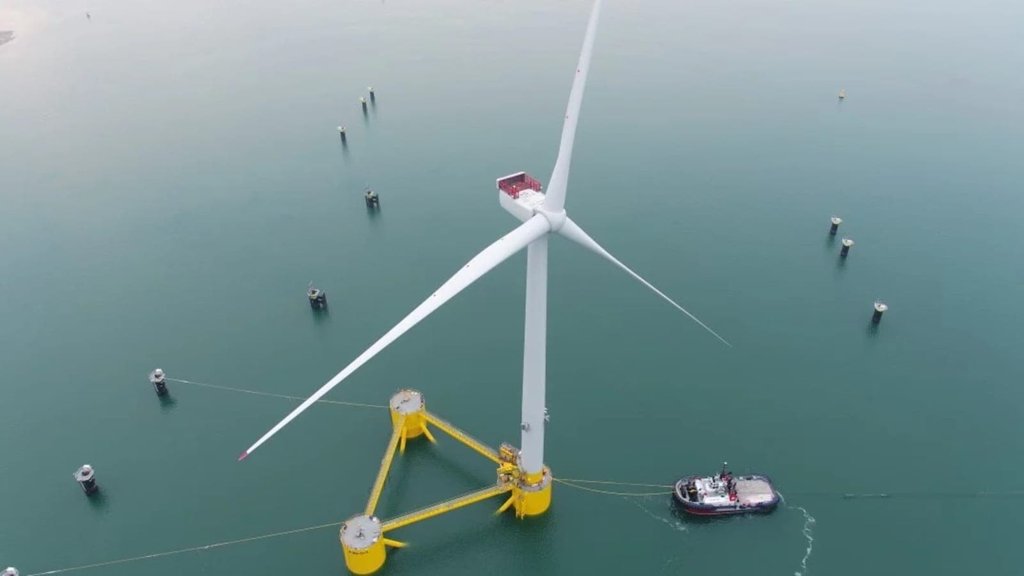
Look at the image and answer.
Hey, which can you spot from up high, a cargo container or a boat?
boat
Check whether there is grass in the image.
No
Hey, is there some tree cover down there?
No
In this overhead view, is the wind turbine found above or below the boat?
above it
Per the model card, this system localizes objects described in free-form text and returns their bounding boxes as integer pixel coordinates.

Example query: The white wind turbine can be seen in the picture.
[241,0,731,485]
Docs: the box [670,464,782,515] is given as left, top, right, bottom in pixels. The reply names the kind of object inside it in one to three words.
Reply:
boat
